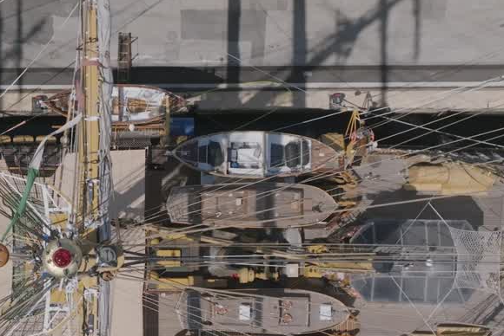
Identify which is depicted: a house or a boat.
boat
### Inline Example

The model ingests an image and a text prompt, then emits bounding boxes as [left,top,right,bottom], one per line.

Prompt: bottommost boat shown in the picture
[173,288,354,336]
